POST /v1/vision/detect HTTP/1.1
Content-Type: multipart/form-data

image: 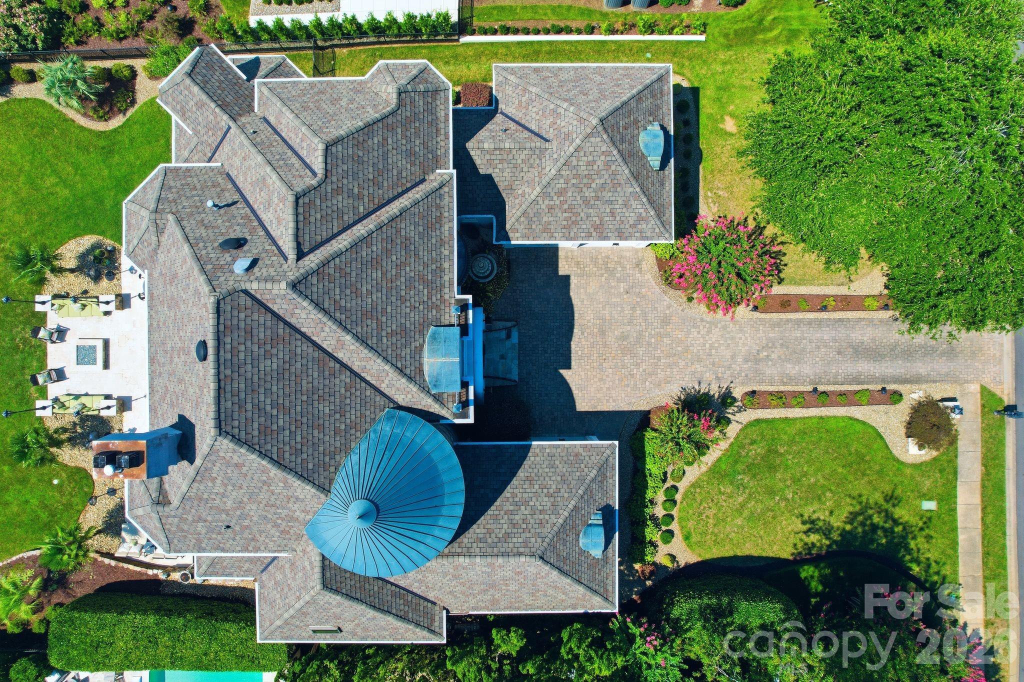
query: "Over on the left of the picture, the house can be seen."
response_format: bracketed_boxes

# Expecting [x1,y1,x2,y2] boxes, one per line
[87,35,676,645]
